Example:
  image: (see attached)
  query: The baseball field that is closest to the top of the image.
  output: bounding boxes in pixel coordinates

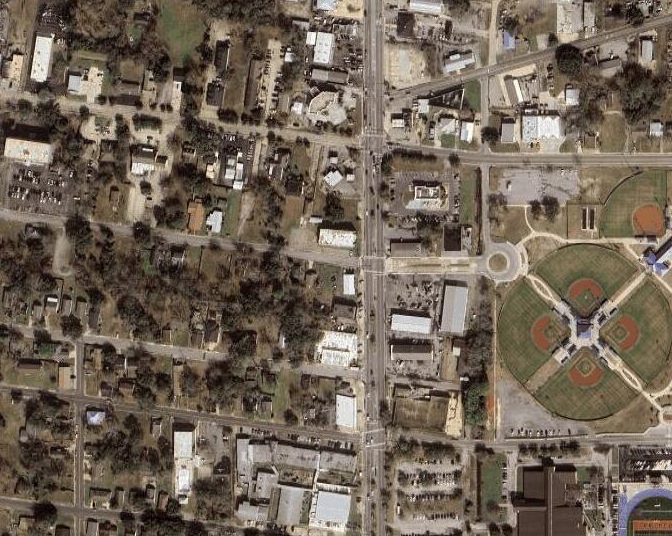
[601,170,666,237]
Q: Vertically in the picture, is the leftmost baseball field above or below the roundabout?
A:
below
